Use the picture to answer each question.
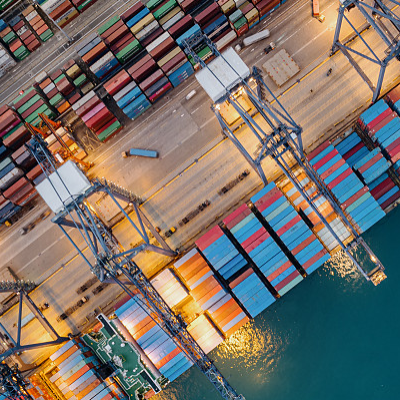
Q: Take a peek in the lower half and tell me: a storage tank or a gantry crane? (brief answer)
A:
gantry crane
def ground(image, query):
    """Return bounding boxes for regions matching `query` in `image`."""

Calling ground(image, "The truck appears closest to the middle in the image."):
[180,199,211,223]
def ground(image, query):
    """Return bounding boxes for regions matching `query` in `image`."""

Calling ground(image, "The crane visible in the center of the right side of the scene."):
[192,36,395,288]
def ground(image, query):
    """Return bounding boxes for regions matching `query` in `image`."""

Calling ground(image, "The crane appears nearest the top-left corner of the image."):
[18,105,92,173]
